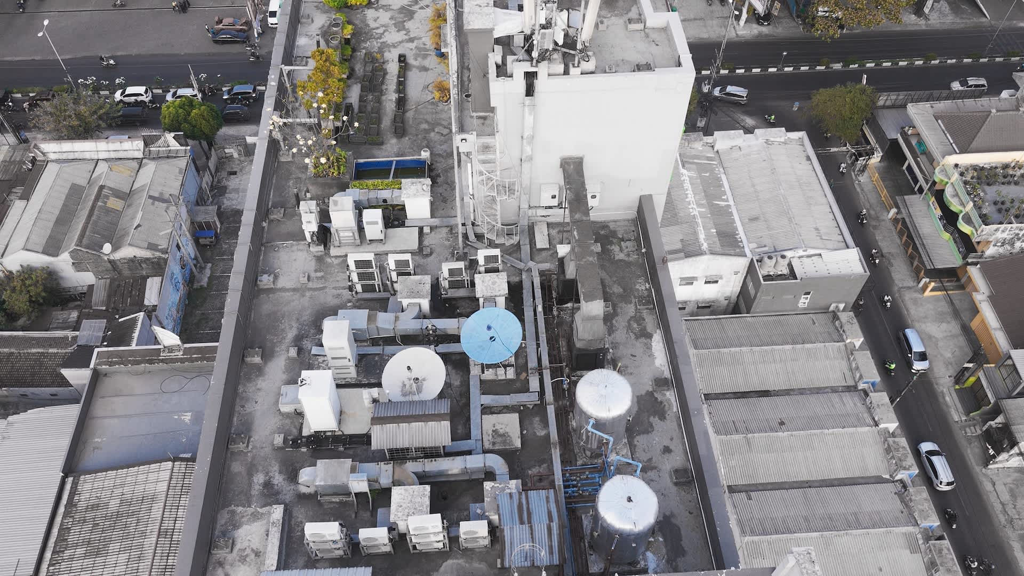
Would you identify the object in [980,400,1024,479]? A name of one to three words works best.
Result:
house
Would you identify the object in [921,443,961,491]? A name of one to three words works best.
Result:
car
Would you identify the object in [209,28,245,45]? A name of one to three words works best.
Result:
car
